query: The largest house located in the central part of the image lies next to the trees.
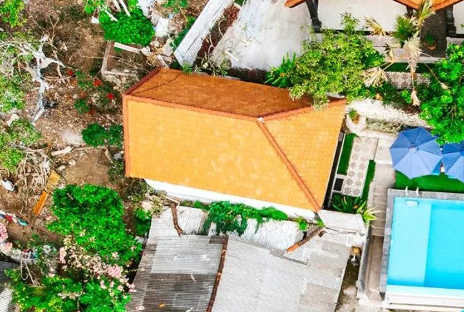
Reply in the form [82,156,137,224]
[123,65,354,225]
